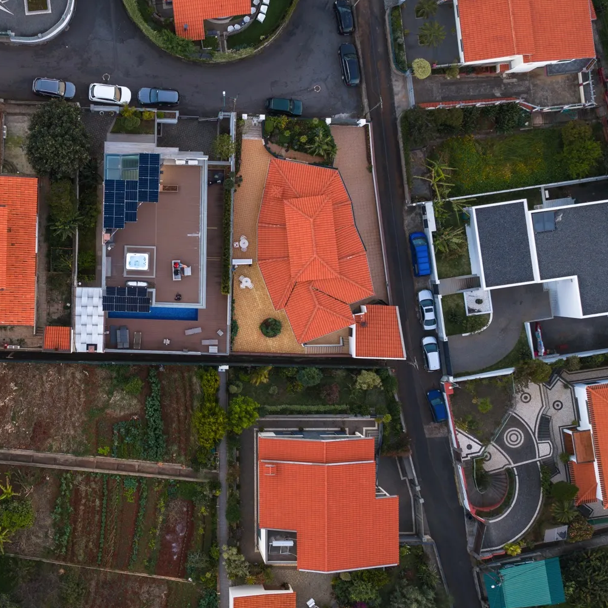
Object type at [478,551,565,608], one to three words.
shed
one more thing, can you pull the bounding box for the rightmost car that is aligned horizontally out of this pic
[264,97,303,116]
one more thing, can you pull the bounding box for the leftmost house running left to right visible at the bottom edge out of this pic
[226,576,296,608]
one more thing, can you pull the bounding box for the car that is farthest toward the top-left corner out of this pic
[32,78,76,100]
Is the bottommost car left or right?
right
